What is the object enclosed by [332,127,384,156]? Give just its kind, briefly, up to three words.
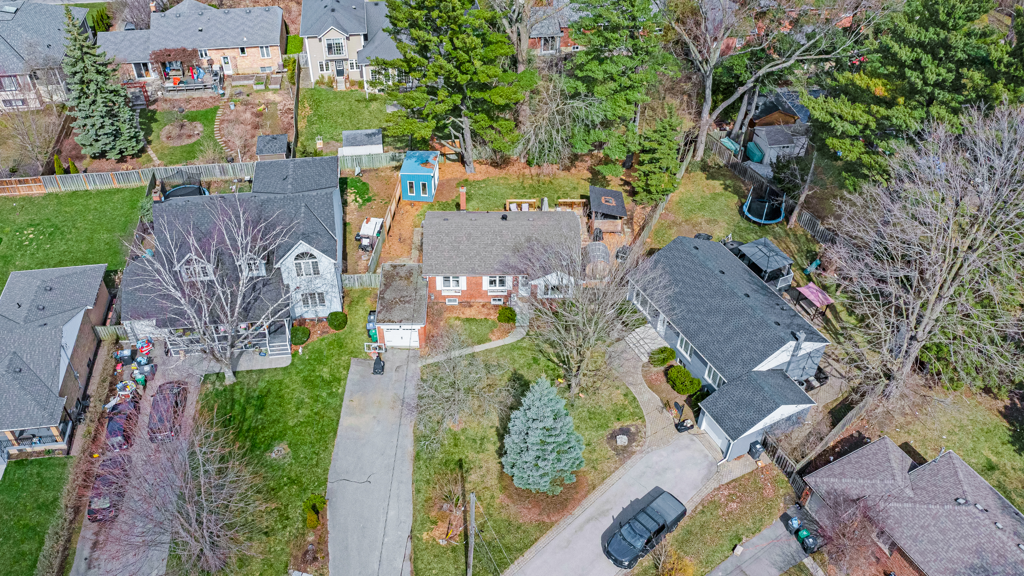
shed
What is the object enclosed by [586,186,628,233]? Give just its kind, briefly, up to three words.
building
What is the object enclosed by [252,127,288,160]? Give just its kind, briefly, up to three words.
shed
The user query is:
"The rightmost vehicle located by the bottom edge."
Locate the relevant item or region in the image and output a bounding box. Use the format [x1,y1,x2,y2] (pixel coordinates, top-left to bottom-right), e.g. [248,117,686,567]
[606,493,687,571]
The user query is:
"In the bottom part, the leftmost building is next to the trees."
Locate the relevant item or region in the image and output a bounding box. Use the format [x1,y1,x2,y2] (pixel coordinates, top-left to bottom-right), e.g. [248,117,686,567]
[0,263,110,457]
